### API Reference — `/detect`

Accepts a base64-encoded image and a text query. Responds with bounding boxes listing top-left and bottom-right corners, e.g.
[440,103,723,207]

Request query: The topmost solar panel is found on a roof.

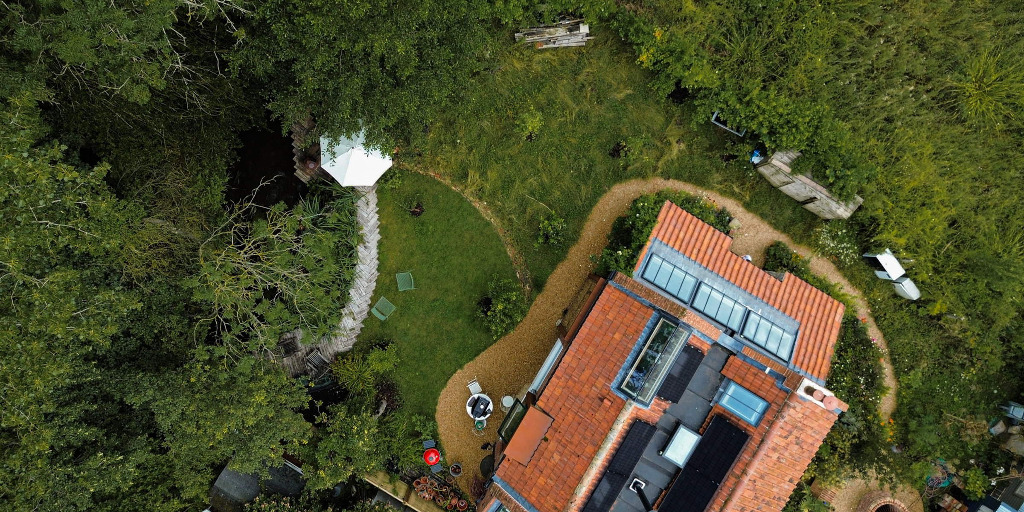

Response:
[659,344,707,405]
